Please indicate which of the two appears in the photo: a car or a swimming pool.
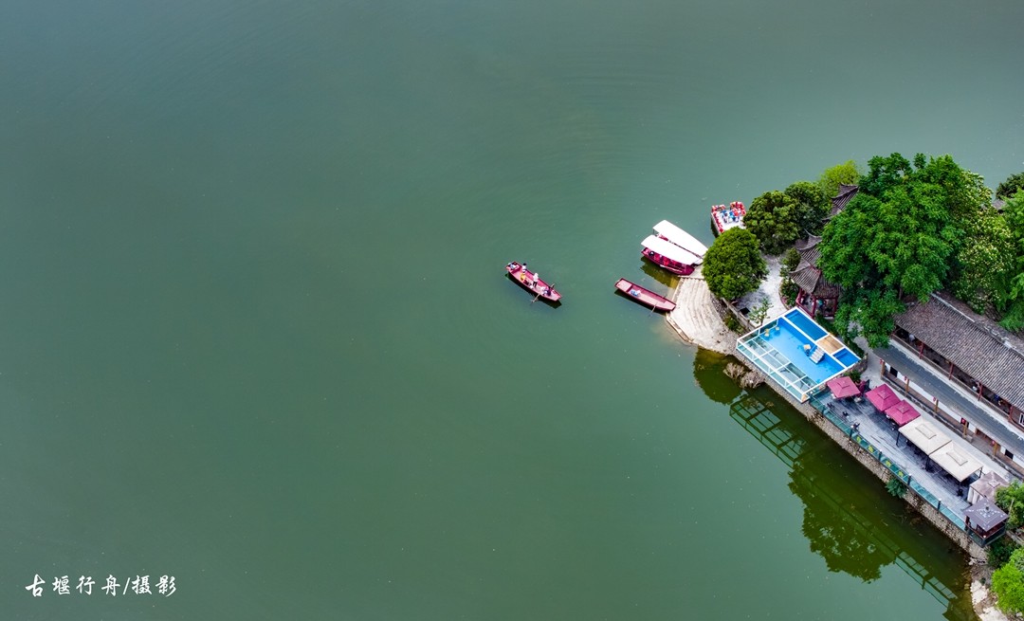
swimming pool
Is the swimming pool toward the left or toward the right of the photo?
right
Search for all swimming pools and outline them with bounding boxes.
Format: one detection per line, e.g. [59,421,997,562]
[735,307,874,409]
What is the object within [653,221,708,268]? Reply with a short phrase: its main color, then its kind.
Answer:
white boat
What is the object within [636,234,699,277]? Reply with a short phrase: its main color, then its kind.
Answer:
white boat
